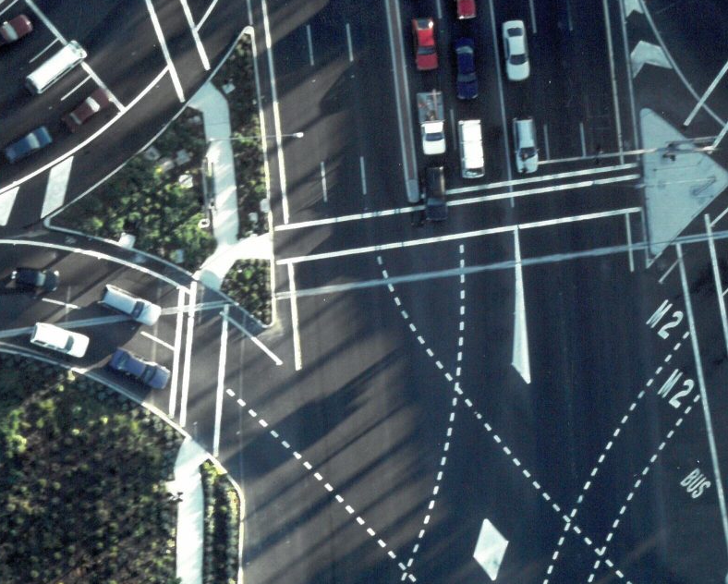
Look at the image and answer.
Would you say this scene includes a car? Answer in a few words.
Yes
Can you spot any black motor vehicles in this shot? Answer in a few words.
Yes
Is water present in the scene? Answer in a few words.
No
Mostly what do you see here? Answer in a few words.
paved ground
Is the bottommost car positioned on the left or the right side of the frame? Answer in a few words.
left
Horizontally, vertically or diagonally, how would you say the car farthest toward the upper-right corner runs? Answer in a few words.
vertically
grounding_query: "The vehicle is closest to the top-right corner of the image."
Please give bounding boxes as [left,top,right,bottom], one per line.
[502,20,530,81]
